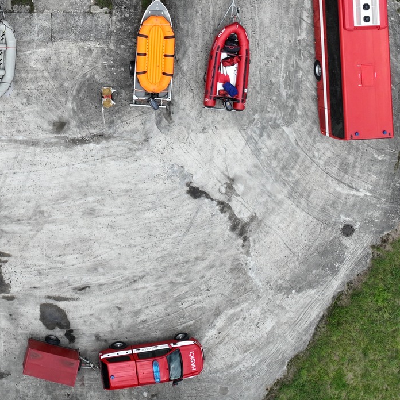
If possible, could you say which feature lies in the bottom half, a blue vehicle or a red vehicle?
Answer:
red vehicle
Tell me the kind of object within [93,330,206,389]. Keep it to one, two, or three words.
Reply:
truck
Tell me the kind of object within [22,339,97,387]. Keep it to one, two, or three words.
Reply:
trailer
